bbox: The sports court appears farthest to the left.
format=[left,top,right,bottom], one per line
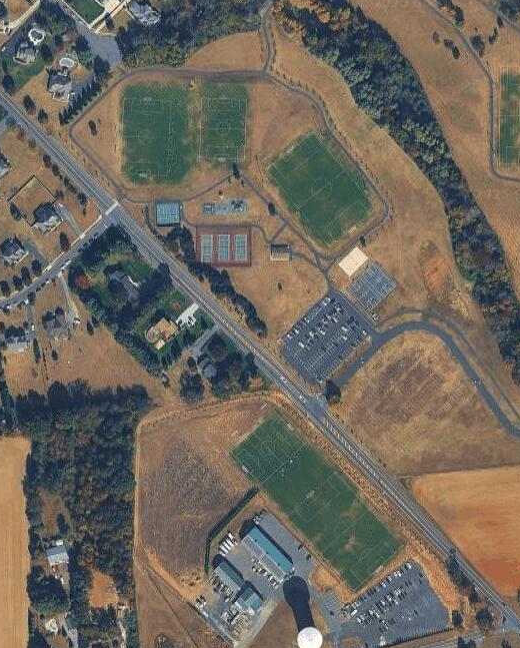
[155,201,180,226]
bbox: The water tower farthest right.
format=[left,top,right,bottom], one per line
[297,628,324,648]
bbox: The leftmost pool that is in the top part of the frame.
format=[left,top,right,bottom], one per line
[28,27,44,42]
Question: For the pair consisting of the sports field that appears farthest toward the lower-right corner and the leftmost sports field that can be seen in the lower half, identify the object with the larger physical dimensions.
the sports field that appears farthest toward the lower-right corner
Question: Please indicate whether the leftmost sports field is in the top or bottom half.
top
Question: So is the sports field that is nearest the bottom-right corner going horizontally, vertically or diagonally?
diagonally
